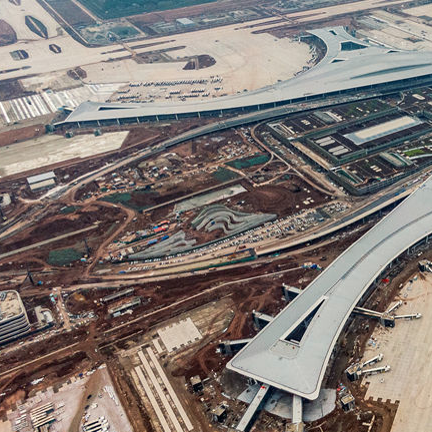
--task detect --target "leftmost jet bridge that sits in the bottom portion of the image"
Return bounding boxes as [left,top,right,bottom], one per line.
[217,337,251,356]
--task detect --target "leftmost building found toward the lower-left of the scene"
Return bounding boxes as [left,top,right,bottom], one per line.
[0,289,31,346]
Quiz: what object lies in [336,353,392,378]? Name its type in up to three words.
jet bridge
